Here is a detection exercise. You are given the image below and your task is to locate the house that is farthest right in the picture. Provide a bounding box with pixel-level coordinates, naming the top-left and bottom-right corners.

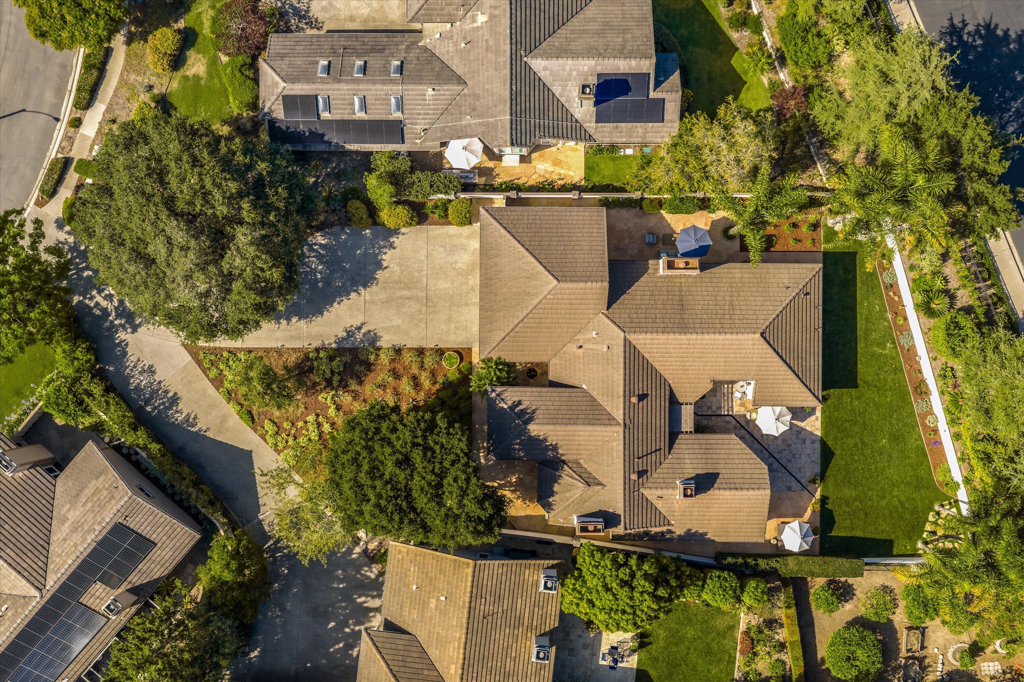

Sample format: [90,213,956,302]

[478,206,824,544]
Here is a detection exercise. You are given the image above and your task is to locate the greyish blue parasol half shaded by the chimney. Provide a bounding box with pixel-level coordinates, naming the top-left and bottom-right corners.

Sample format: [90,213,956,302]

[675,224,710,258]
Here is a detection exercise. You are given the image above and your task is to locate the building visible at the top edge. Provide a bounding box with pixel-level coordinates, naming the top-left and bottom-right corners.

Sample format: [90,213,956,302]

[258,0,683,164]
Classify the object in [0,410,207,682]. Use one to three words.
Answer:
house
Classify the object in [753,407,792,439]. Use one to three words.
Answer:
umbrella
